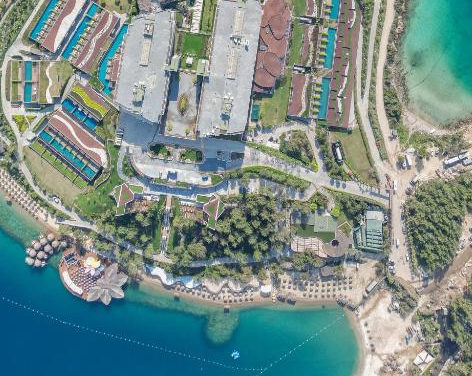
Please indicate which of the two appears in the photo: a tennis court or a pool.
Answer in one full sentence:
It is a pool that can be seen here.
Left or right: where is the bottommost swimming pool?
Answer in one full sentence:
It is on the left.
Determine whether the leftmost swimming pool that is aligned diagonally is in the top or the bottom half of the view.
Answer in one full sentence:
It is in the top half that the leftmost swimming pool that is aligned diagonally appears.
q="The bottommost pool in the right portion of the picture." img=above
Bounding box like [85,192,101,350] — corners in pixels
[317,77,330,119]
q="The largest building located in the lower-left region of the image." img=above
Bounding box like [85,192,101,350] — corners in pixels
[59,248,129,306]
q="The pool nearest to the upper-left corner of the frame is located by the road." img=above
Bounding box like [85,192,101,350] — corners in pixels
[29,0,60,41]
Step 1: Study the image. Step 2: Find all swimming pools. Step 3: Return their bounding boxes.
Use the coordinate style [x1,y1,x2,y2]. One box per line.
[23,83,32,103]
[317,77,330,119]
[72,107,86,122]
[322,29,336,70]
[39,128,98,179]
[83,116,98,131]
[328,0,340,21]
[29,0,60,41]
[62,98,75,114]
[62,14,92,60]
[97,24,128,94]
